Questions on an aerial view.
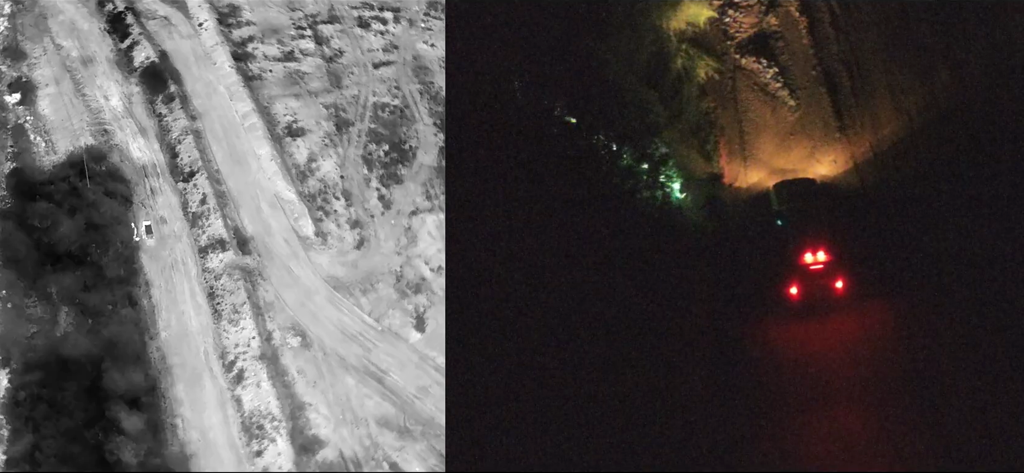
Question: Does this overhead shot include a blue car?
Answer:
No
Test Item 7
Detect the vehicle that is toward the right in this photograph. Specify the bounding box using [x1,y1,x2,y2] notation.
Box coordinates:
[765,181,846,302]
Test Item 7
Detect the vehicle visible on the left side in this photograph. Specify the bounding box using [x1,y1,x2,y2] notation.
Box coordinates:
[143,217,156,241]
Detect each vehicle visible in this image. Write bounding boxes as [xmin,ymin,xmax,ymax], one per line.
[143,217,156,241]
[765,181,846,302]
